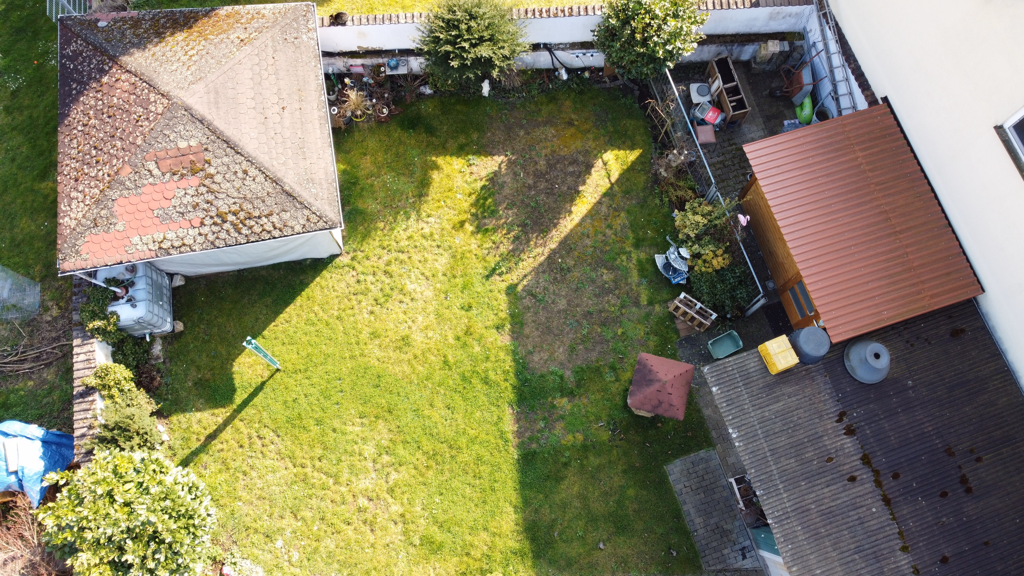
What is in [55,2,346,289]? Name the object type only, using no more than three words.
building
